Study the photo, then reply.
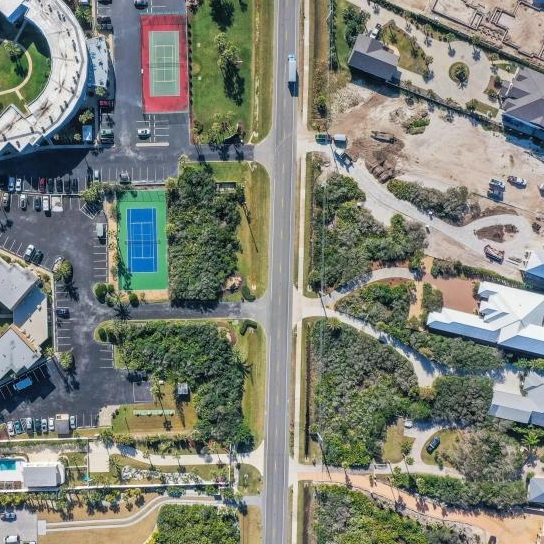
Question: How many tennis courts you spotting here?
two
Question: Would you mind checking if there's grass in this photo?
Yes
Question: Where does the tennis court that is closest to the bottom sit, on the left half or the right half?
left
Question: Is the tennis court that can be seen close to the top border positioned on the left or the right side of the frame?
left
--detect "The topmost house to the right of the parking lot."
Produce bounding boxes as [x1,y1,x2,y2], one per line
[347,34,402,87]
